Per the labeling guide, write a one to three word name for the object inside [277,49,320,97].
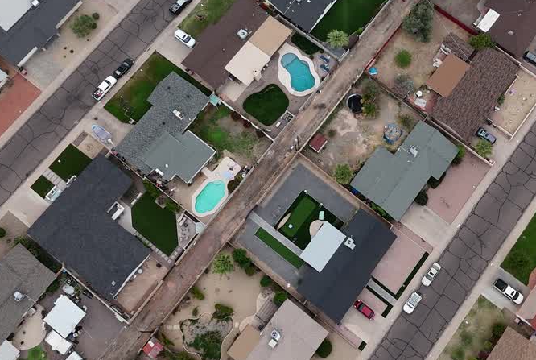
swimming pool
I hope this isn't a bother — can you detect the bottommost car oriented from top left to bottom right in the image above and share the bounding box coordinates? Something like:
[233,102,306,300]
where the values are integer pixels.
[353,299,375,321]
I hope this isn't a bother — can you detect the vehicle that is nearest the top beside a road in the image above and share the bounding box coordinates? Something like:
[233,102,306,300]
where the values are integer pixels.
[169,0,192,15]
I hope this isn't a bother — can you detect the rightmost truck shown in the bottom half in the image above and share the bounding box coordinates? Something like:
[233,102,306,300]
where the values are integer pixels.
[493,280,522,304]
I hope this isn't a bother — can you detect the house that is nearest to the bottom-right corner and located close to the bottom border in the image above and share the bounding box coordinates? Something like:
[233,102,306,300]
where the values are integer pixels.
[486,326,536,360]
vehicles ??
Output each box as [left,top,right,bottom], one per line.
[92,76,117,101]
[524,52,536,67]
[402,290,421,315]
[353,299,375,321]
[169,0,192,15]
[114,58,134,78]
[175,29,195,48]
[493,280,522,304]
[421,262,440,287]
[476,127,497,145]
